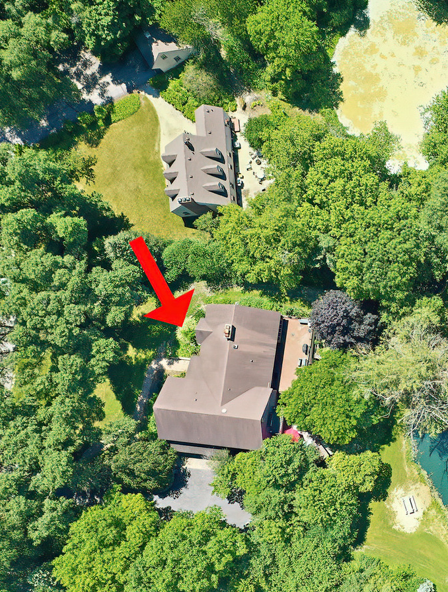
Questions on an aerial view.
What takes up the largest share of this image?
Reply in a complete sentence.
The scene is dominated by trees.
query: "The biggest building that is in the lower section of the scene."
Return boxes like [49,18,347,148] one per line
[150,301,291,461]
